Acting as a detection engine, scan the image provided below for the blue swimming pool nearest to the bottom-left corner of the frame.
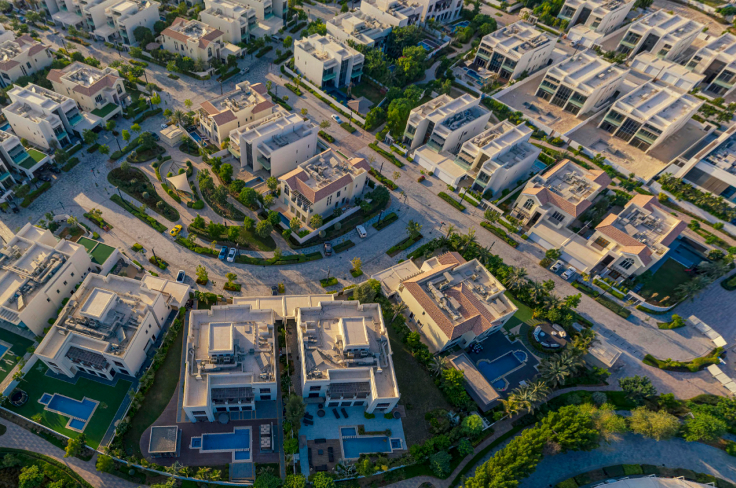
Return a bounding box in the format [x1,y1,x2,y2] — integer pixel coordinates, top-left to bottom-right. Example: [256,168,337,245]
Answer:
[39,392,99,431]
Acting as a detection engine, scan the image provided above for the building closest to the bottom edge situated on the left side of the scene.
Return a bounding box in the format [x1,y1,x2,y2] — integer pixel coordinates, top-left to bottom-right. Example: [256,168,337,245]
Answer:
[151,425,179,455]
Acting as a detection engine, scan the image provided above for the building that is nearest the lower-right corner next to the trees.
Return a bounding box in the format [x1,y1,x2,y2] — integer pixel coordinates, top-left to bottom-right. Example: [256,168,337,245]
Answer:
[584,336,623,372]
